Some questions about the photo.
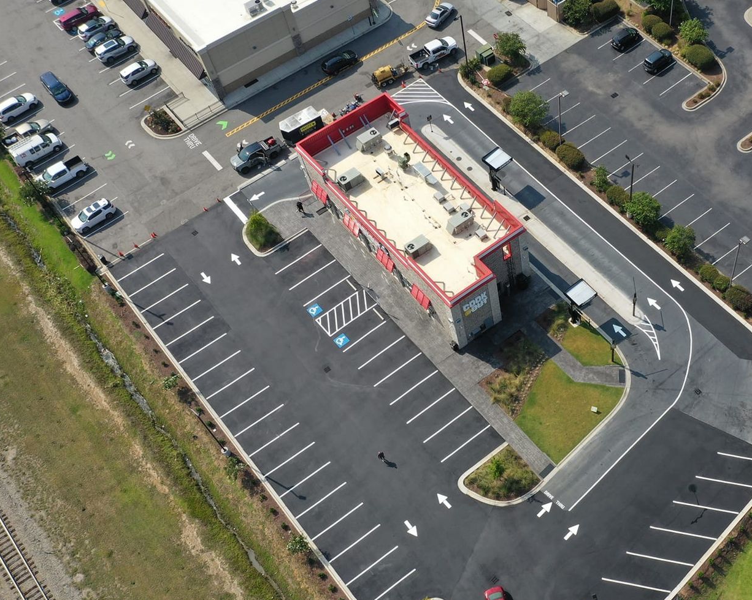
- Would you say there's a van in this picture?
Yes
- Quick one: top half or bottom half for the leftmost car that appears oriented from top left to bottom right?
top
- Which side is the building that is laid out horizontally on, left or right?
left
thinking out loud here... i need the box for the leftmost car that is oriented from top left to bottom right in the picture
[38,69,76,102]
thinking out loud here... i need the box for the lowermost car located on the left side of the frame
[70,198,120,232]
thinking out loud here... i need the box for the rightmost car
[642,49,676,74]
